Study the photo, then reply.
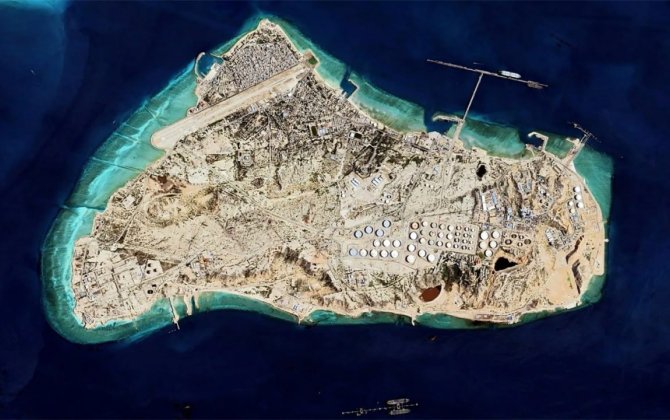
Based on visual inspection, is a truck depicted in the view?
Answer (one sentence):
No, no truck is visible in the scene.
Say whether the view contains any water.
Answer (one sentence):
Yes, water shows up in the scene.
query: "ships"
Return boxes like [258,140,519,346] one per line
[499,70,522,79]
[390,410,411,415]
[387,398,410,404]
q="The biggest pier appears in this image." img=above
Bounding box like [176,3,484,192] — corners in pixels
[427,59,548,150]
